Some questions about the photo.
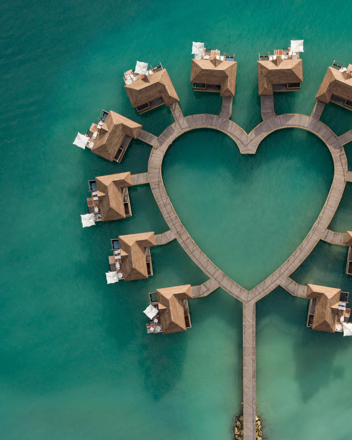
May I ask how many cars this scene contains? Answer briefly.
0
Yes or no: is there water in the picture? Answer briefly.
Yes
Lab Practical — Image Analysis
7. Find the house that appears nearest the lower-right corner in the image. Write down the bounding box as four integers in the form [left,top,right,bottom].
[304,282,351,333]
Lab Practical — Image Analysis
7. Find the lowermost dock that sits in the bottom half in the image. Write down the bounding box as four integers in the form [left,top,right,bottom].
[242,302,256,440]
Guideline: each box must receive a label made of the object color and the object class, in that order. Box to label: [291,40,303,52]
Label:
white umbrella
